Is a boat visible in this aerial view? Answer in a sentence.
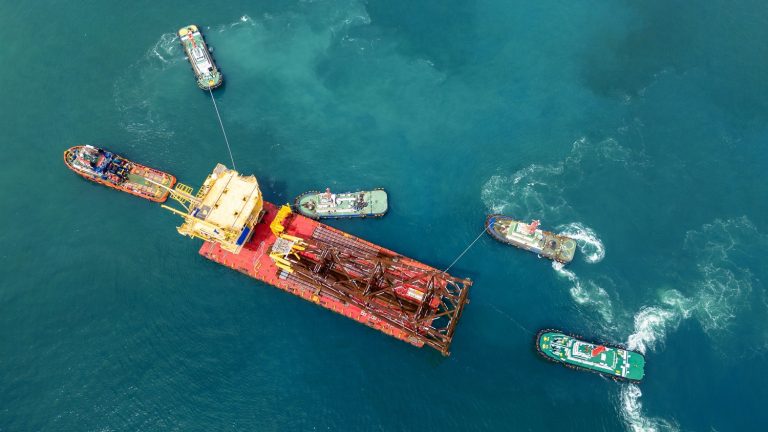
Yes, there's a boat here.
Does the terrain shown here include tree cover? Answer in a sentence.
No, the scene doesn't show any tree cover.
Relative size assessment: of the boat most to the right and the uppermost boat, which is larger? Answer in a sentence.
Of the two, the boat most to the right is bigger, while the uppermost boat is smaller.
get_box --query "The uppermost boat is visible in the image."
[176,23,220,91]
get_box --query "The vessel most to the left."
[62,141,181,208]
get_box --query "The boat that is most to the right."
[535,328,645,388]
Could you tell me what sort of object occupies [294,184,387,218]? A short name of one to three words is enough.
boat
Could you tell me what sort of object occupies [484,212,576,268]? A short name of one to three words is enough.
boat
